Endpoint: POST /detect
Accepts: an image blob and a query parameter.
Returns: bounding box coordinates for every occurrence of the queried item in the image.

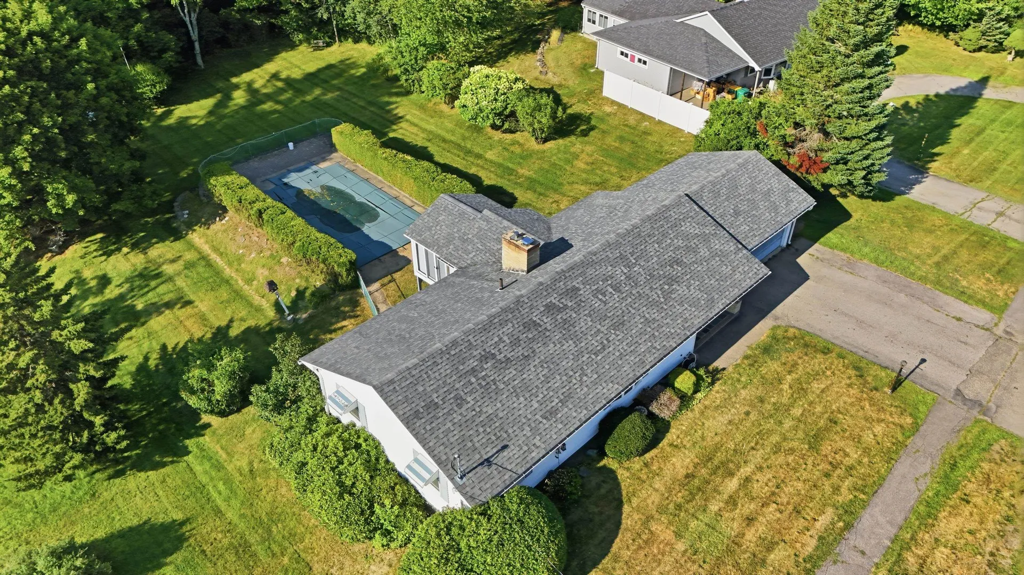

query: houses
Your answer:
[578,0,829,111]
[299,153,817,515]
